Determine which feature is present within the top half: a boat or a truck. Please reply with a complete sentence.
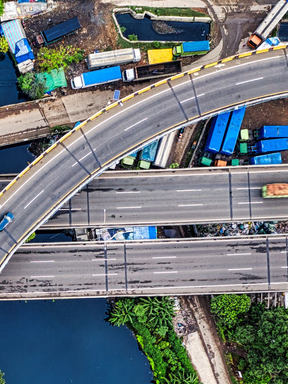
Visible within the top half is a truck.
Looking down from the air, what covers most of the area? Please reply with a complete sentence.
Most of the picture is covered by paved ground.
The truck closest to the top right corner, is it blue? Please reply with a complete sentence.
No, the truck closest to the top right corner is actually white.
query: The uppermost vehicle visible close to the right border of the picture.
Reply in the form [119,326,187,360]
[241,0,288,50]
